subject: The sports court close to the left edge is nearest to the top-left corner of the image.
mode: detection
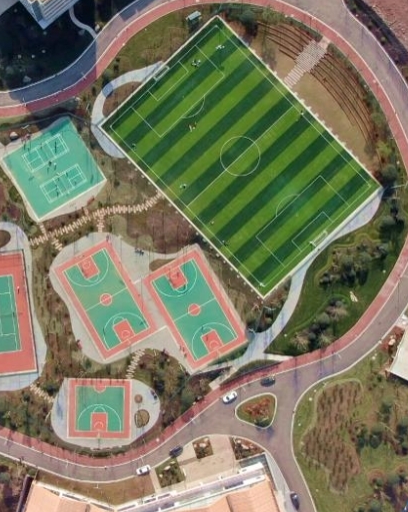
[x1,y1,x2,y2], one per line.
[2,116,106,221]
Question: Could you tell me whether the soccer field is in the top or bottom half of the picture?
top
